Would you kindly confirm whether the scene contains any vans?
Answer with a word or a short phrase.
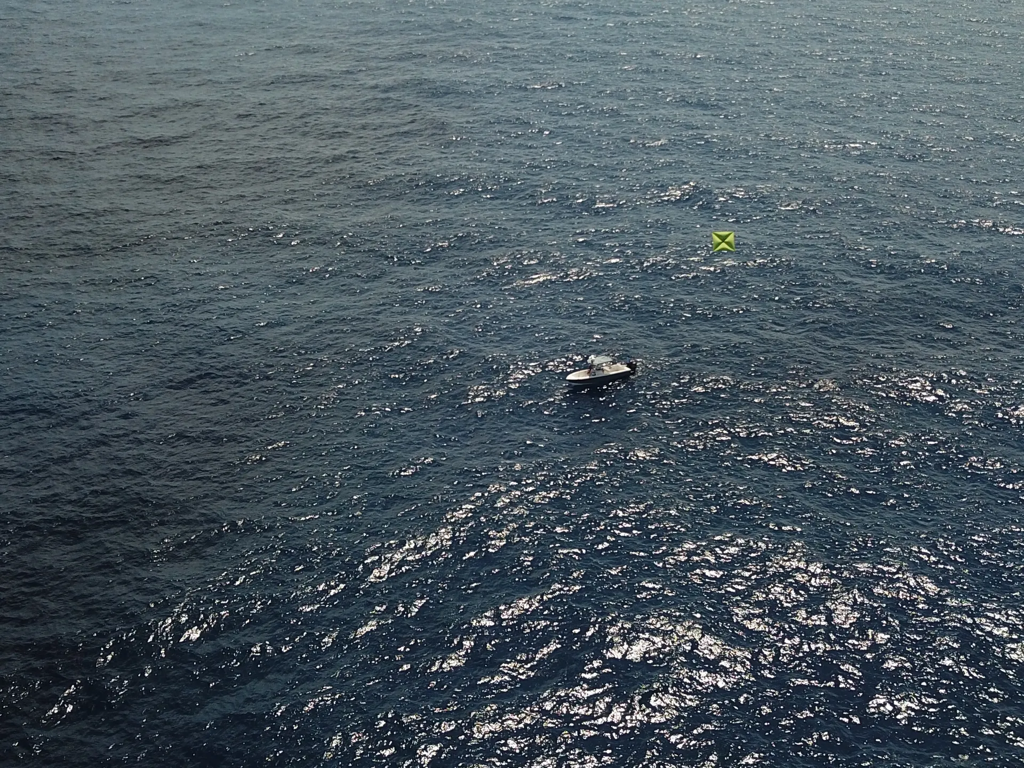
No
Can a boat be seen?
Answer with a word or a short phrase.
Yes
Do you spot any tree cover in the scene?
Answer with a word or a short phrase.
No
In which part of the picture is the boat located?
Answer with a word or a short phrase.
center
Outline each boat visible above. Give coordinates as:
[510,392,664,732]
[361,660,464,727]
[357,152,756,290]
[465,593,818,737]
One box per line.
[566,350,637,386]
